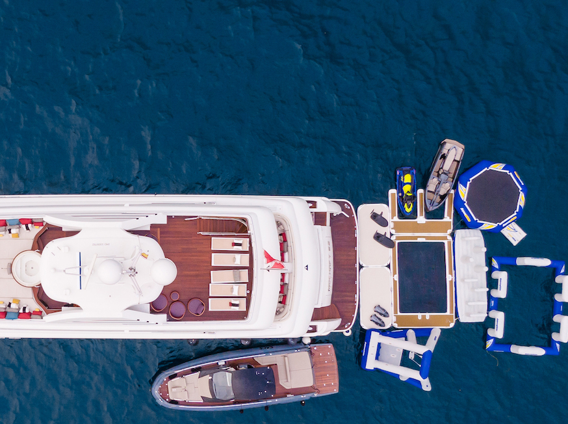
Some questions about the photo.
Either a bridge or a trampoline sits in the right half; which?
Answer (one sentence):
There is a trampoline in the right half.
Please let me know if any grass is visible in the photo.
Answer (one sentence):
No, the picture contains no grass.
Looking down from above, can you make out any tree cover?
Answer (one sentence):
No, the picture contains no tree cover.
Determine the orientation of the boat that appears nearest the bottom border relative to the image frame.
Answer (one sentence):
In this picture, the boat that appears nearest the bottom border lies from left to right.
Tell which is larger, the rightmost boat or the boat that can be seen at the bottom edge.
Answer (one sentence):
The boat that can be seen at the bottom edge takes up more space than the rightmost boat.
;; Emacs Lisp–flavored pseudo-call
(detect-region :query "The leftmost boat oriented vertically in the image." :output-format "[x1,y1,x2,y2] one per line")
[396,167,417,215]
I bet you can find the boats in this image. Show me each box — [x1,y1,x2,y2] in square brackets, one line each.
[396,167,417,215]
[149,344,338,413]
[0,194,359,339]
[426,138,465,211]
